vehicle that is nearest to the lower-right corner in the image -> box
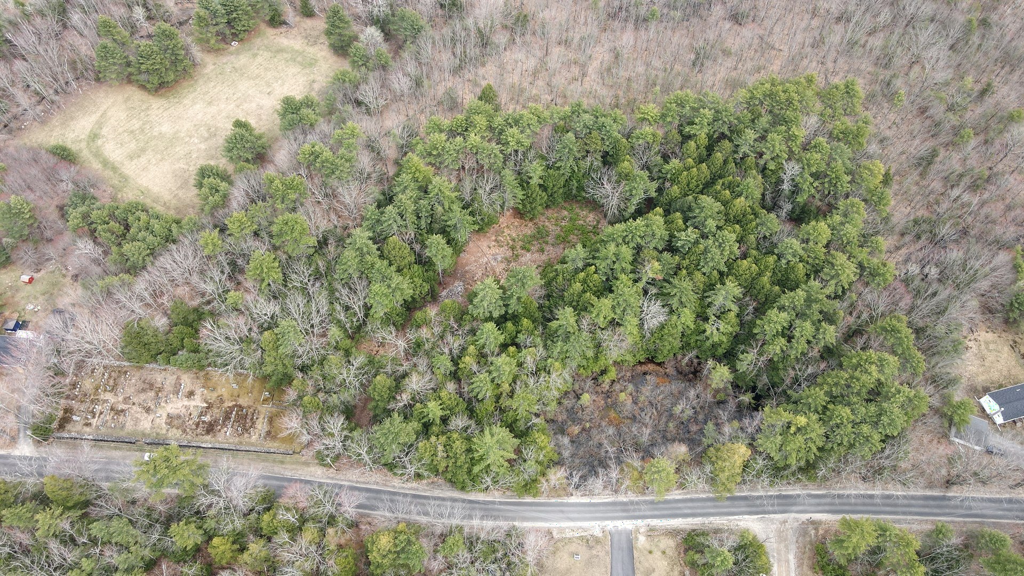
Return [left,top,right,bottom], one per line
[984,444,1006,458]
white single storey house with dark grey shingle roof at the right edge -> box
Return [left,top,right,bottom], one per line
[980,379,1024,424]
